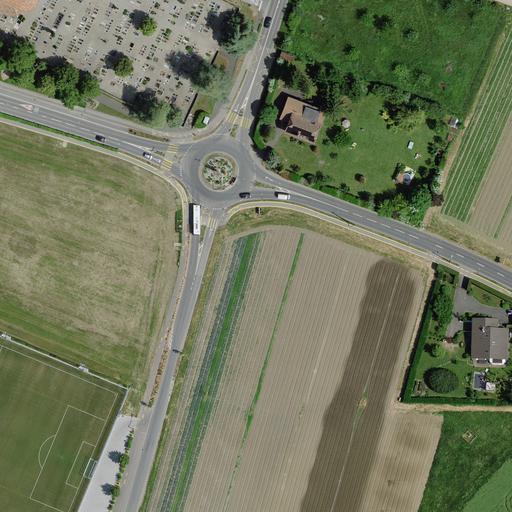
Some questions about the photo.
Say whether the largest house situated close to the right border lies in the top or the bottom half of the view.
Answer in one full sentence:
The largest house situated close to the right border is in the bottom half of the image.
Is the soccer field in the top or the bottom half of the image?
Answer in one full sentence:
It is in the bottom half that the soccer field appears.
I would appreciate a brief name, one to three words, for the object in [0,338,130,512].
soccer field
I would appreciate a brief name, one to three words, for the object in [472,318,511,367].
house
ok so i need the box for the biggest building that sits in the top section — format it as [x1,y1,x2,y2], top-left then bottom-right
[280,96,325,144]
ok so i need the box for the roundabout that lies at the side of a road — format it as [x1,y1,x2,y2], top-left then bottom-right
[182,134,256,208]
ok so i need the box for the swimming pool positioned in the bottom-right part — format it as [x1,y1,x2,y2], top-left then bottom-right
[473,372,496,394]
